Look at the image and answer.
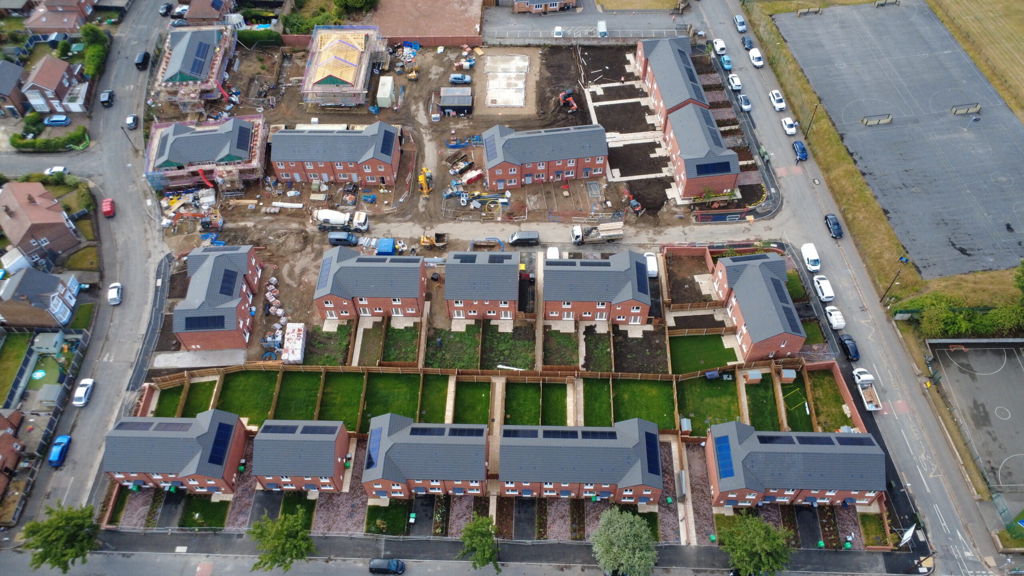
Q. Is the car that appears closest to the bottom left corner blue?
Yes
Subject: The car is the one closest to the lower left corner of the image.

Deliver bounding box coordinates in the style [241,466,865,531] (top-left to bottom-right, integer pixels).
[47,436,72,468]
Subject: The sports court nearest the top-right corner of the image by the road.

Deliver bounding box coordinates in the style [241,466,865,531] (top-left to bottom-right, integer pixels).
[770,0,1024,279]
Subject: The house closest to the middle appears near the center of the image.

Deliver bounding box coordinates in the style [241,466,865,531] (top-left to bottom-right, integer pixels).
[445,252,519,318]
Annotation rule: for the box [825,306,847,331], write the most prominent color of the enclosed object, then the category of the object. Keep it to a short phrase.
white vehicle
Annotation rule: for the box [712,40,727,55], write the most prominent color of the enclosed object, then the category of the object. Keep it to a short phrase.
white vehicle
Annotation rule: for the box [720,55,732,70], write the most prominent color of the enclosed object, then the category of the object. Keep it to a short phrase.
blue vehicle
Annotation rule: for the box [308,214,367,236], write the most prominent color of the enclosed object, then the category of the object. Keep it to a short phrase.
white truck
